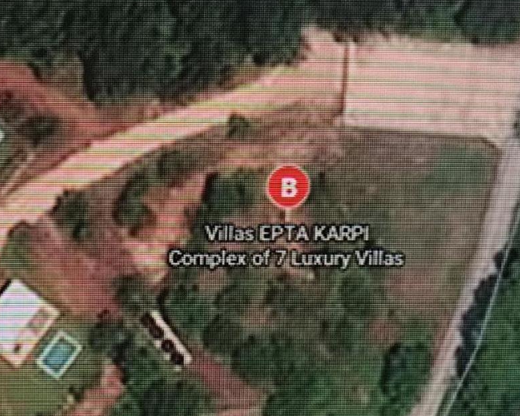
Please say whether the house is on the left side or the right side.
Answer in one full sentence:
It is on the left.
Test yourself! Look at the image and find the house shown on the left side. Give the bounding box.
[0,275,59,364]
